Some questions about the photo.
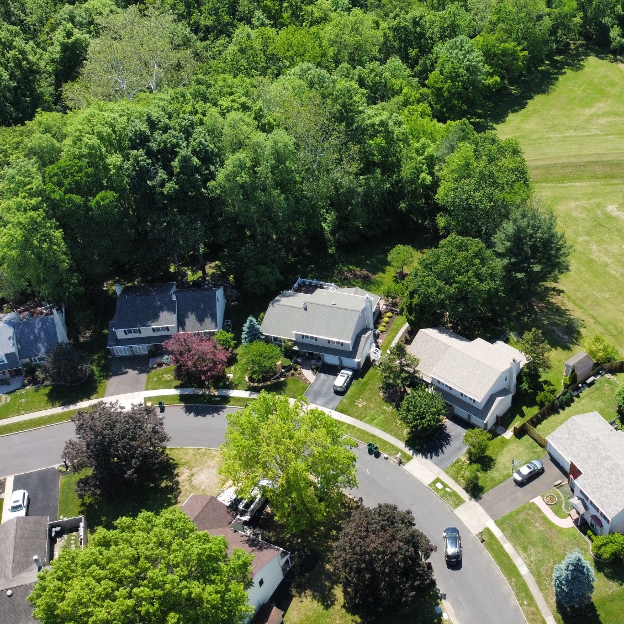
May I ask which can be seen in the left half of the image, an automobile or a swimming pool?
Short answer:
automobile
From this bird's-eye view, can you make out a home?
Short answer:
Yes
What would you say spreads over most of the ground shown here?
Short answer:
trees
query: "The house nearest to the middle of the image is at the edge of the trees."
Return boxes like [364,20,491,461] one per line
[256,276,383,369]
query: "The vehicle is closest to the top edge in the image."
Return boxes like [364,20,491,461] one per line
[330,367,353,393]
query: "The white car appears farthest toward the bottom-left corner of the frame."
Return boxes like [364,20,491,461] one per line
[7,486,31,519]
